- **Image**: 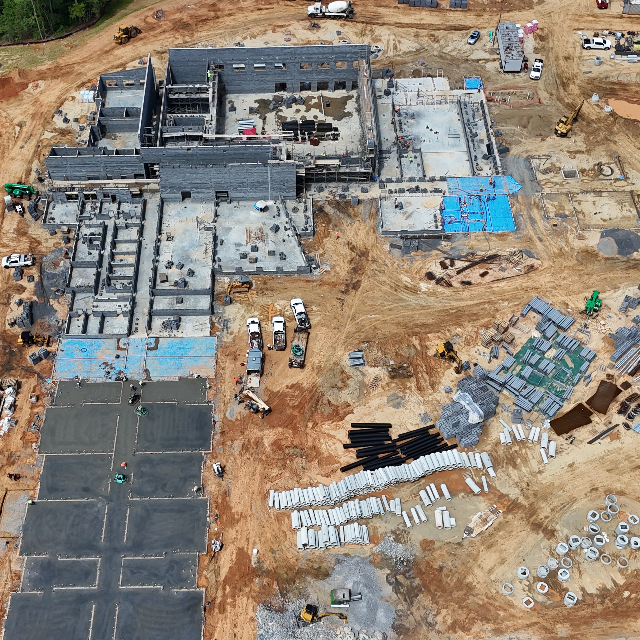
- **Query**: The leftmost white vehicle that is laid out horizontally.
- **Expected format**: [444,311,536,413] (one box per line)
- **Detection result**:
[0,254,36,269]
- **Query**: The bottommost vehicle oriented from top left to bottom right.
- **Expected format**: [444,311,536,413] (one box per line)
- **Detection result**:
[227,384,269,417]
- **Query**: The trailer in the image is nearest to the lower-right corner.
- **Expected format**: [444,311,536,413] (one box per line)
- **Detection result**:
[453,502,505,538]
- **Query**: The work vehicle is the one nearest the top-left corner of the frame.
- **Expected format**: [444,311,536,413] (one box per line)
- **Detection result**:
[112,25,146,44]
